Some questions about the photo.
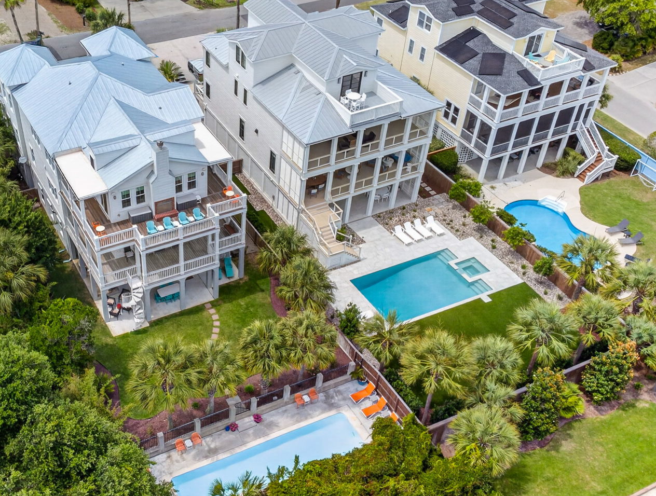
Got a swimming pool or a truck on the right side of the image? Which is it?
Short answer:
swimming pool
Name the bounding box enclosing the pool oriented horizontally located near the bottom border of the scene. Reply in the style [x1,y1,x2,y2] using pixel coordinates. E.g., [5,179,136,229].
[156,404,391,496]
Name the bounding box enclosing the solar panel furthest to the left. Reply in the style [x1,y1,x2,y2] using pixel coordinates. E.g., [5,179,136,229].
[389,4,411,22]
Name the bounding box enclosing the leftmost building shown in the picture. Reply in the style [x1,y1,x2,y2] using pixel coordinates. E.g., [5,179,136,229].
[0,24,250,324]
